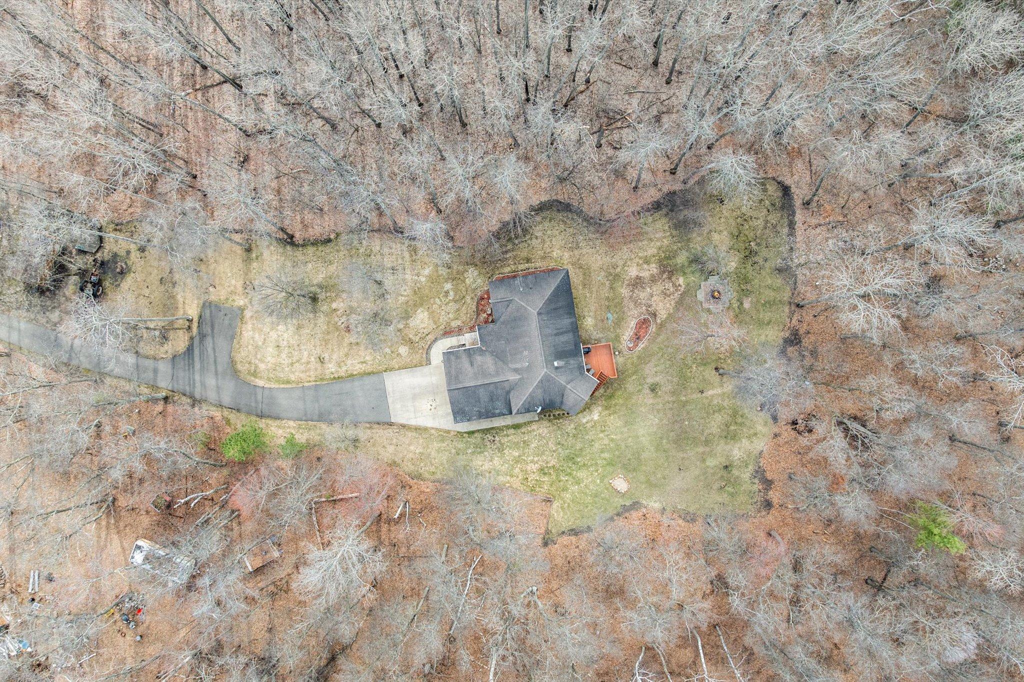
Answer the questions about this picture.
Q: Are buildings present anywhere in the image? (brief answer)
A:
Yes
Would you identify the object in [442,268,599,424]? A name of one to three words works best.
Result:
house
